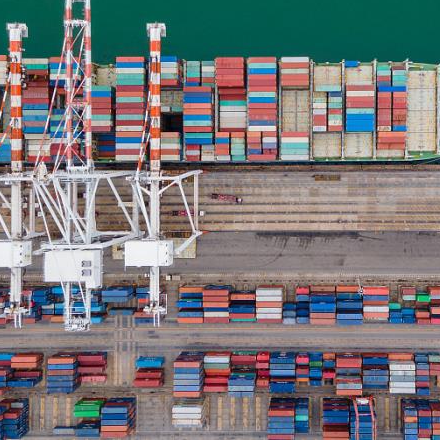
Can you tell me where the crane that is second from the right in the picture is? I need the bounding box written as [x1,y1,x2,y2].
[126,22,212,321]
